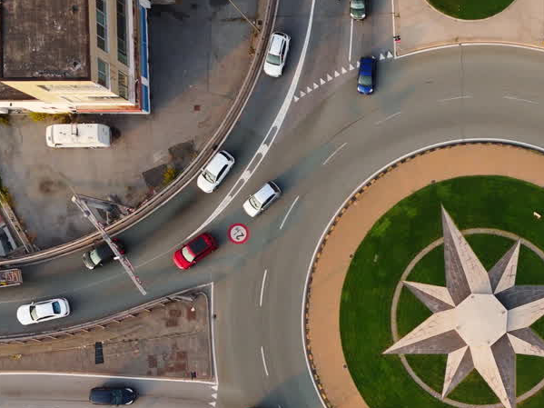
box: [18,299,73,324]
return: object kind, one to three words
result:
car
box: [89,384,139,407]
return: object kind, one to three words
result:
car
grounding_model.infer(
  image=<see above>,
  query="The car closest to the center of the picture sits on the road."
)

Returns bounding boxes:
[245,181,283,217]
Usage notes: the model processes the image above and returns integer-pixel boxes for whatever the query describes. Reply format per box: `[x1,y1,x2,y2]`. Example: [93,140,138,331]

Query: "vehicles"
[262,30,291,80]
[48,120,115,149]
[245,181,283,217]
[199,150,234,193]
[89,384,139,407]
[173,233,218,267]
[345,0,369,22]
[84,239,128,268]
[355,56,377,95]
[18,299,73,324]
[0,267,26,288]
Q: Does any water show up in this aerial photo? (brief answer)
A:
No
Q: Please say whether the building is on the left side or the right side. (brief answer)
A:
left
